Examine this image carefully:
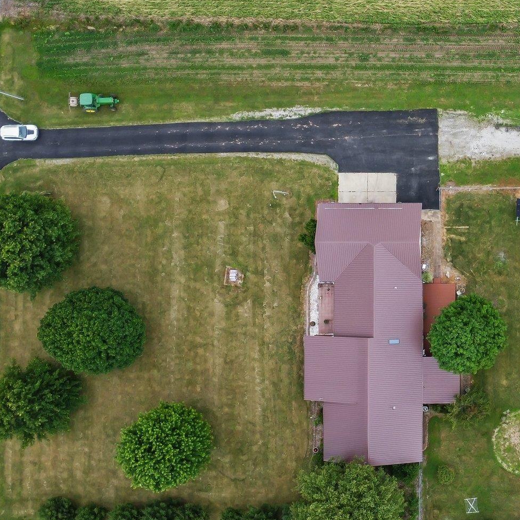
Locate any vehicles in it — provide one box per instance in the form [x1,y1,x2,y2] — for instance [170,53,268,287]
[0,124,40,141]
[80,91,121,113]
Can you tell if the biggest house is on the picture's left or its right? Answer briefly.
right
